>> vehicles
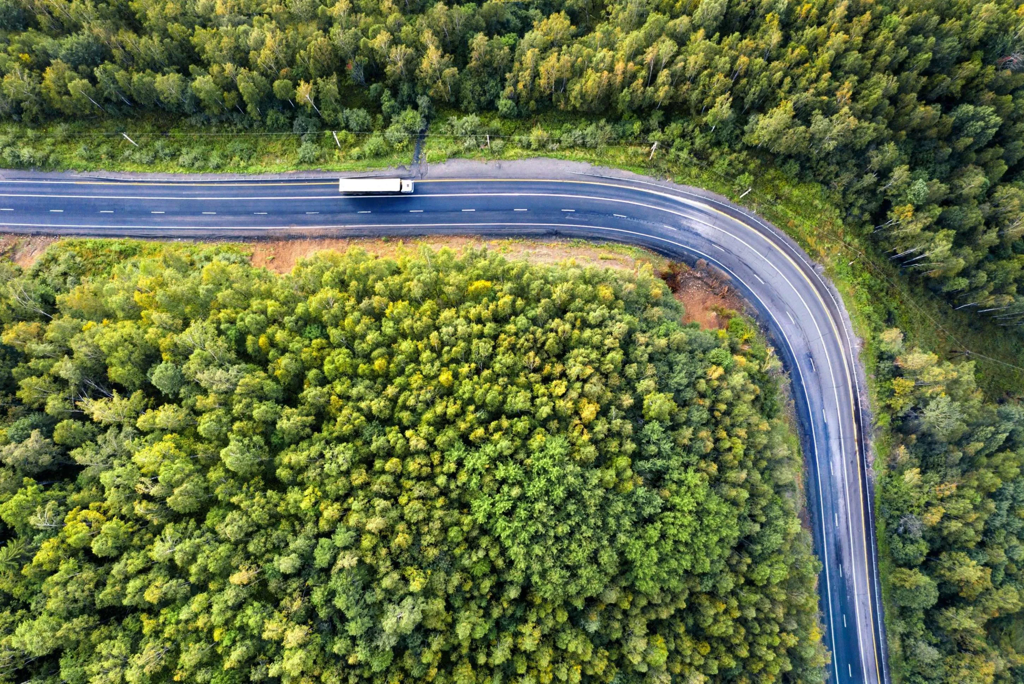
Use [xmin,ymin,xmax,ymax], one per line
[340,179,415,196]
